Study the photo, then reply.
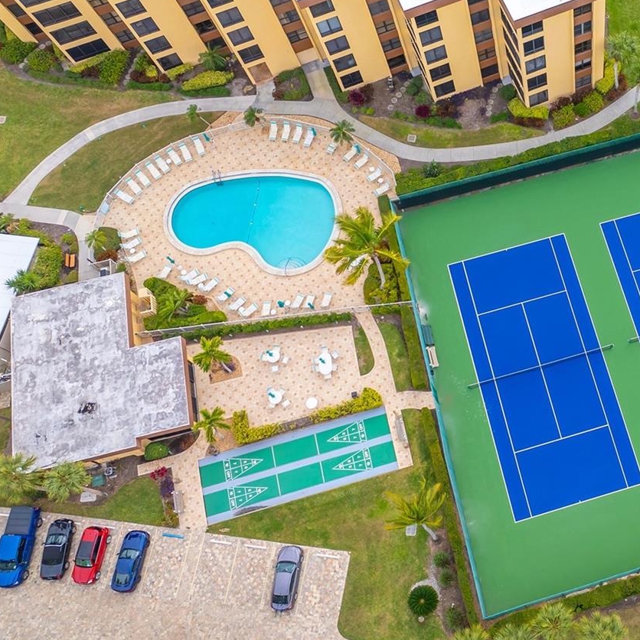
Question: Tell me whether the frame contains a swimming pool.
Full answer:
Yes, the photo shows a swimming pool.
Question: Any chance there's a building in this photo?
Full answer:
Yes, a building can be made out from above.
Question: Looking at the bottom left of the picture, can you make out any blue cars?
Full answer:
Yes, a blue car can be seen at the bottom left of the picture.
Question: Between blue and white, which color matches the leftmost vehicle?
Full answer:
In this view, the leftmost vehicle is blue.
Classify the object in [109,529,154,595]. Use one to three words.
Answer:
car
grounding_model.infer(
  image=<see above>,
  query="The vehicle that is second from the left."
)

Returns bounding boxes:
[38,519,78,581]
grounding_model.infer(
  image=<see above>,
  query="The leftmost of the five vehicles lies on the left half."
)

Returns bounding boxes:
[0,507,45,586]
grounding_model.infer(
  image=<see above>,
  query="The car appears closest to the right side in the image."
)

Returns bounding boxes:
[269,545,304,612]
